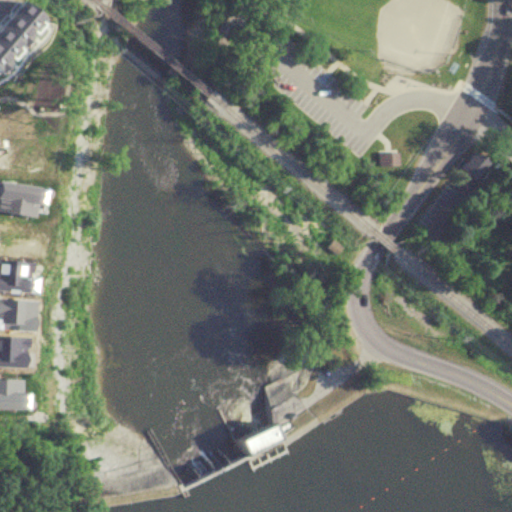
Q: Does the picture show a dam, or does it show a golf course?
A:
dam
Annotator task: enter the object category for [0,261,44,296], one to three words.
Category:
house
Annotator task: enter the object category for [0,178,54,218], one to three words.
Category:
house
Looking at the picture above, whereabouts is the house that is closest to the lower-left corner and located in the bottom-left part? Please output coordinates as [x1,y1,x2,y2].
[0,380,46,424]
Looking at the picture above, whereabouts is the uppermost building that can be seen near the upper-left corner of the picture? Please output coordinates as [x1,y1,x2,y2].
[0,0,52,86]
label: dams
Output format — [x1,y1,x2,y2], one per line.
[97,428,252,506]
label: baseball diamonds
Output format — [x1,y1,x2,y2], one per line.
[377,0,463,76]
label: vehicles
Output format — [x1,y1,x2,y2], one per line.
[360,294,367,308]
[318,90,332,97]
[280,84,295,91]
